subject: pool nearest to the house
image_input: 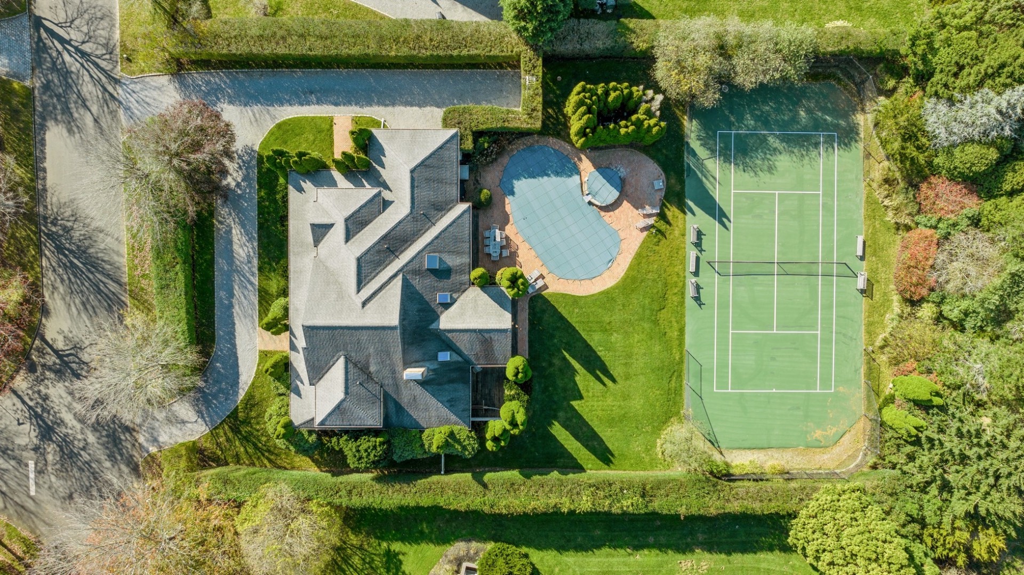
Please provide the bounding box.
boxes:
[495,139,626,286]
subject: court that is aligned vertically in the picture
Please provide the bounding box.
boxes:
[685,81,863,448]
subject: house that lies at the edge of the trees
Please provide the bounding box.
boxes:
[288,128,512,429]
